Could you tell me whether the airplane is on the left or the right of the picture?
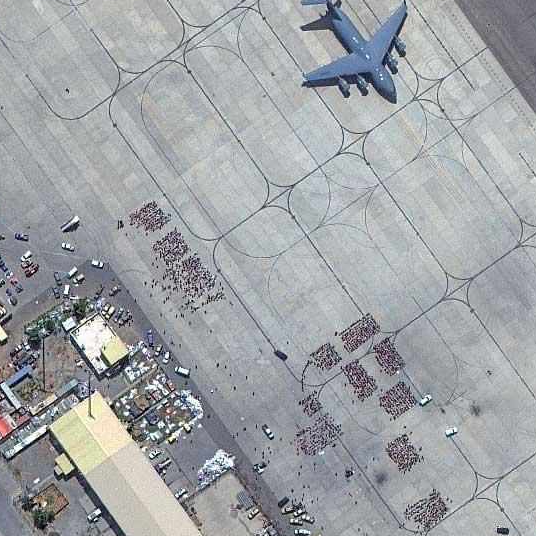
right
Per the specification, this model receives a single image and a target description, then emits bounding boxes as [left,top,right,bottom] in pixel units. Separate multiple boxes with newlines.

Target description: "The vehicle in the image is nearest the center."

[273,348,289,363]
